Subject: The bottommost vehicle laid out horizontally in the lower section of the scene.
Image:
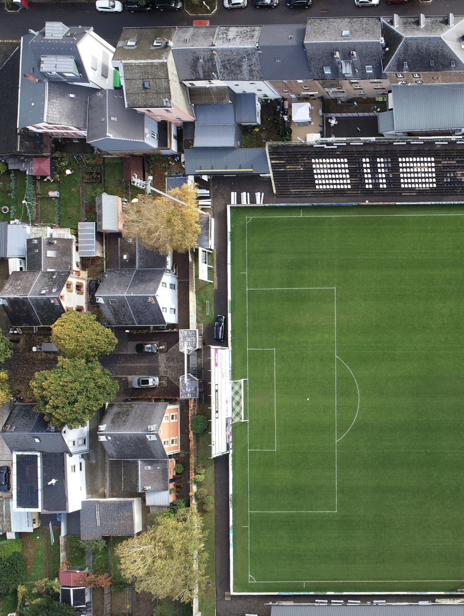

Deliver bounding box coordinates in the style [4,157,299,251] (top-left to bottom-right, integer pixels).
[133,376,158,388]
